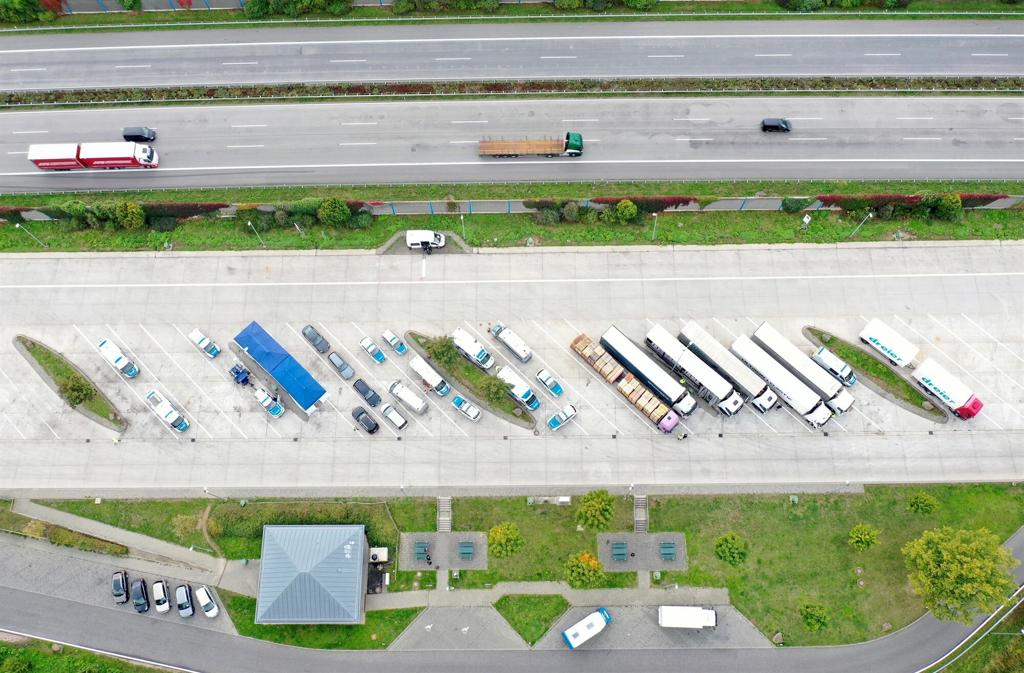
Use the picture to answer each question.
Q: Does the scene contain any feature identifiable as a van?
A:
Yes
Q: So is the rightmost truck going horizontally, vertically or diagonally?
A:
diagonally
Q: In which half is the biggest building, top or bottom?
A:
bottom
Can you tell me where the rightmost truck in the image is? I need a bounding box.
[857,319,983,423]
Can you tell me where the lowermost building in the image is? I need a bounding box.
[254,525,366,624]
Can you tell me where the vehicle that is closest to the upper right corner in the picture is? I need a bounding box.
[759,118,792,135]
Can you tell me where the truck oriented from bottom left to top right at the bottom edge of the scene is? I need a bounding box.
[562,606,611,649]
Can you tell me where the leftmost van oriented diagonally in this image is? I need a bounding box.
[95,336,142,381]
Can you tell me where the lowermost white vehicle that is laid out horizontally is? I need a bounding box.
[656,606,718,630]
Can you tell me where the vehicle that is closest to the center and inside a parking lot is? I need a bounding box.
[492,325,533,366]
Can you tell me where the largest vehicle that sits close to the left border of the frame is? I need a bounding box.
[28,142,163,172]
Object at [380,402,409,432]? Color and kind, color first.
white car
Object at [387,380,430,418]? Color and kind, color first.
white van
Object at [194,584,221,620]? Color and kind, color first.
white car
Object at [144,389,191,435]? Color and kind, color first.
white van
